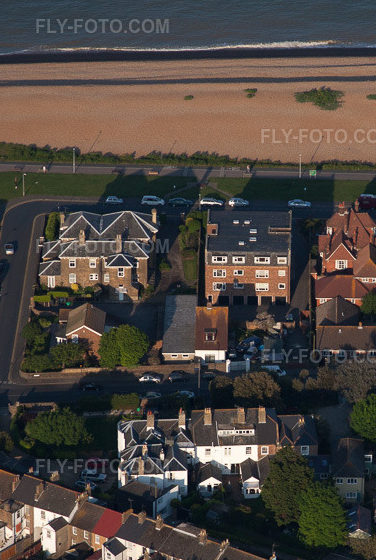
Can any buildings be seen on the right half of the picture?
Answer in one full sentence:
Yes, I can see a building on the right half of the picture.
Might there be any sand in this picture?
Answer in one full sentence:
Yes, there's sand in this view.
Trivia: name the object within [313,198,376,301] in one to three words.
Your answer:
house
